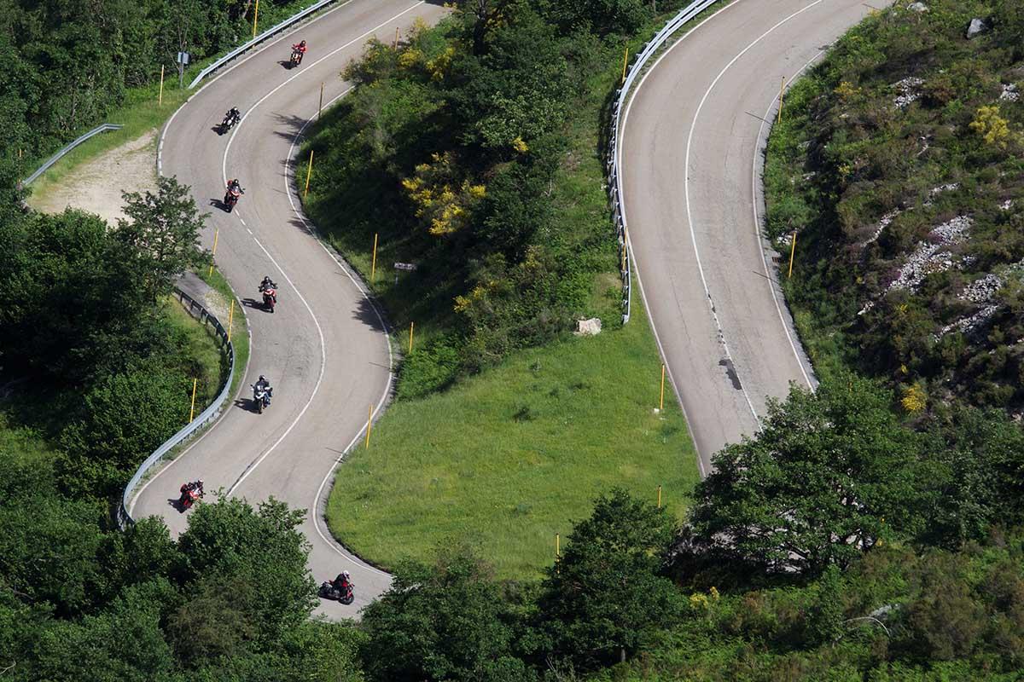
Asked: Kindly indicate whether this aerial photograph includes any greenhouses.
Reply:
No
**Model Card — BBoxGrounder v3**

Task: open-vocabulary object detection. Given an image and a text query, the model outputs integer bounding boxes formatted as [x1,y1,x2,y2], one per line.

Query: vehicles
[180,484,207,517]
[249,387,269,418]
[225,187,243,212]
[221,114,239,136]
[259,289,277,316]
[288,46,303,67]
[317,571,356,605]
